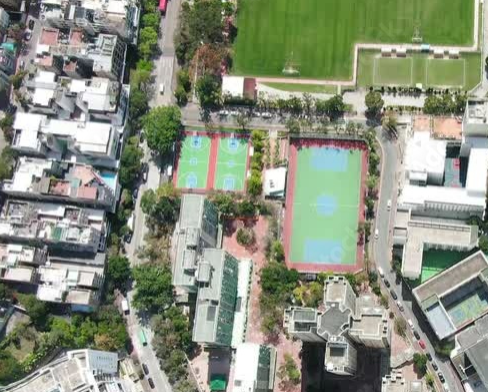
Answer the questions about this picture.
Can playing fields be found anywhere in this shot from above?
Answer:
Yes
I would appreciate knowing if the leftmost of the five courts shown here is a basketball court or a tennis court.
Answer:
basketball court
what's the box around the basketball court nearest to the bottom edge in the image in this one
[442,282,488,334]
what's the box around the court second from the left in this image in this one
[285,139,369,275]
